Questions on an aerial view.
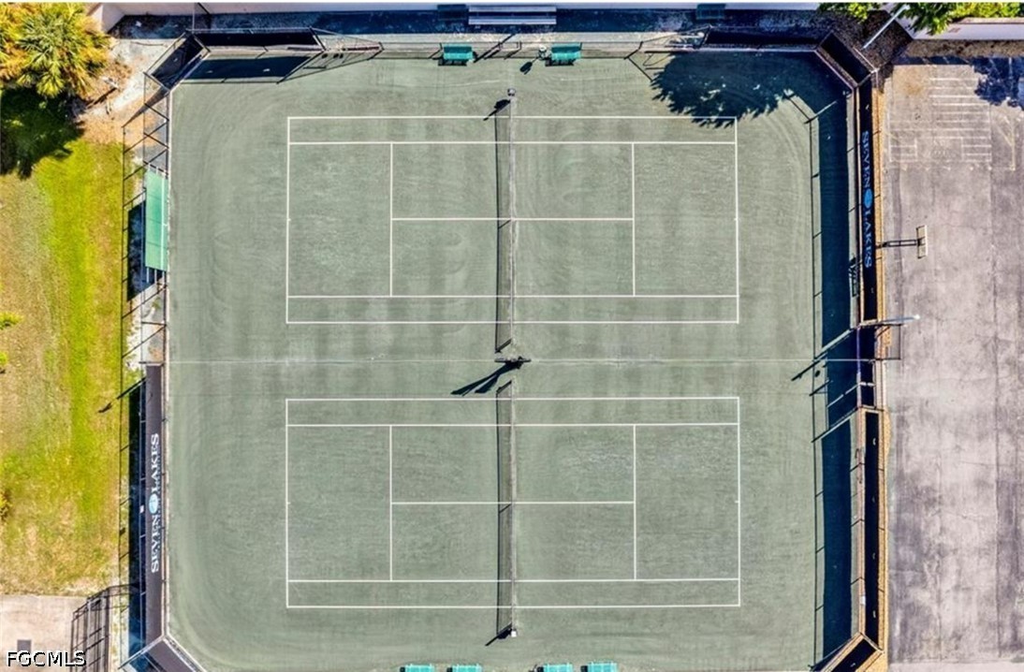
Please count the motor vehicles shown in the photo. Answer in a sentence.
I count no motor vehicles.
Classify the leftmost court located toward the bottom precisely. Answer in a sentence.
Specifically, the leftmost court located toward the bottom is a tennis court.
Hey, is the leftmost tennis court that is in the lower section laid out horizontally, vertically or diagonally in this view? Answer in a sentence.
The leftmost tennis court that is in the lower section runs horizontally in the image.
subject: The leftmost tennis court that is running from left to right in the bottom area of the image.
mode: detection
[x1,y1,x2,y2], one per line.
[286,397,740,608]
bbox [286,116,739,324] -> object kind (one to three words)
tennis court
